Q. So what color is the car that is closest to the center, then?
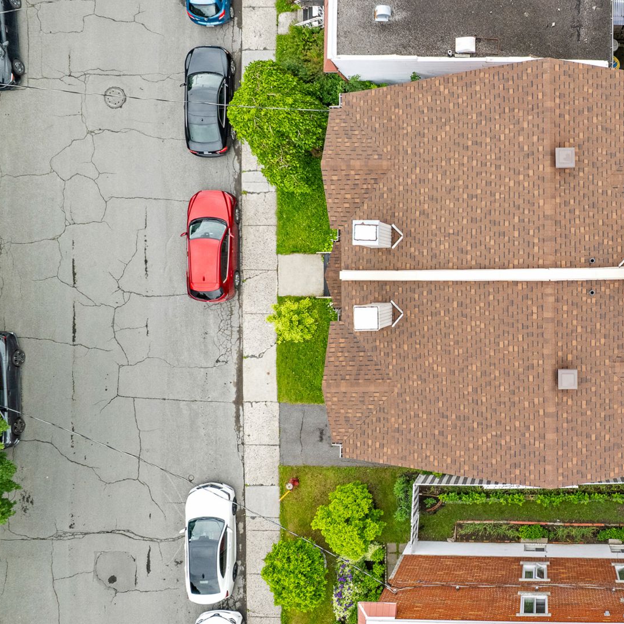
red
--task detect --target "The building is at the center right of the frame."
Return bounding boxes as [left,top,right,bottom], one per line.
[314,57,624,491]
